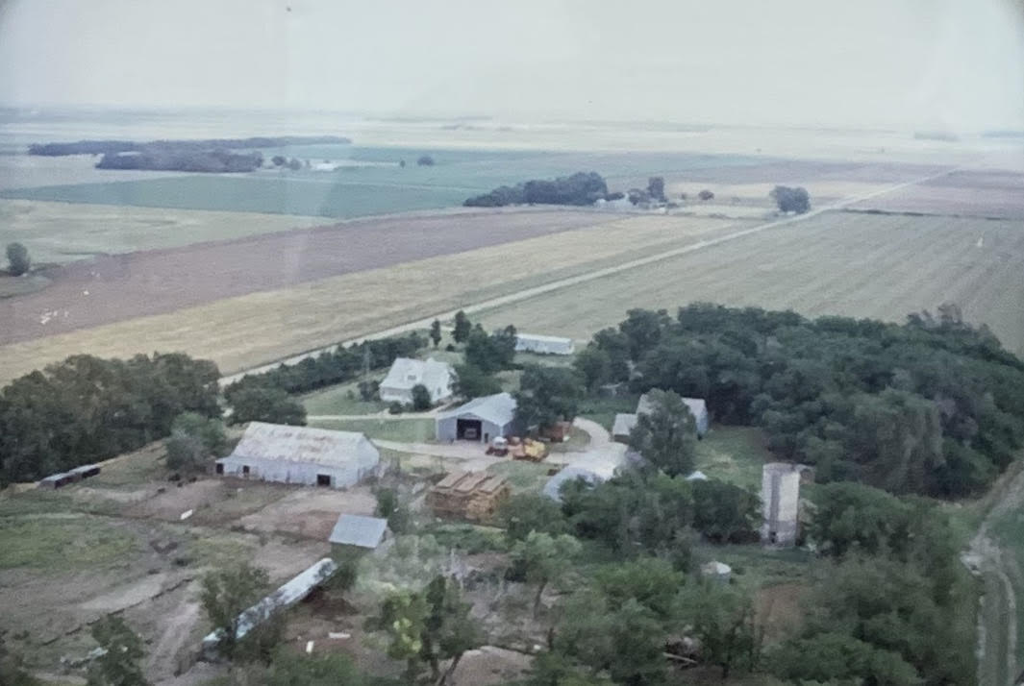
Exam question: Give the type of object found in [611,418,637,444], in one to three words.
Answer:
shed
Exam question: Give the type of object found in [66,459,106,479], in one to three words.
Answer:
shed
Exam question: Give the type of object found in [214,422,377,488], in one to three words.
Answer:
barn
